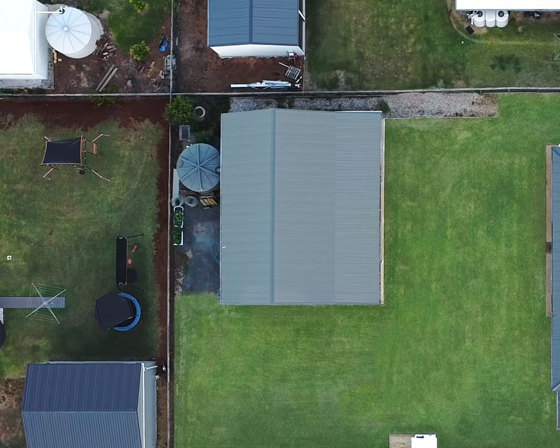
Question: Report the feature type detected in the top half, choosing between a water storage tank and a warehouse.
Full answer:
There is a water storage tank in the top half.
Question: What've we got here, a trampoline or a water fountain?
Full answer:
Looking from above, you can make out a trampoline.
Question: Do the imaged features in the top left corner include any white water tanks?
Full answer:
Yes, a white water tank appears in the top left corner.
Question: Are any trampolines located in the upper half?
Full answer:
No, the scene shows no trampoline in the upper half.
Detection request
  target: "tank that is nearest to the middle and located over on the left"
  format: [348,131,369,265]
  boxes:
[176,145,220,193]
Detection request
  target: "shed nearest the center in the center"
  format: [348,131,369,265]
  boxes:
[220,108,383,304]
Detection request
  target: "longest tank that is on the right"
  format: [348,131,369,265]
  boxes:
[467,11,509,29]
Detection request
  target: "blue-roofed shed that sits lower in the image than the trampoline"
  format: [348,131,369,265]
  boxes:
[21,362,156,448]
